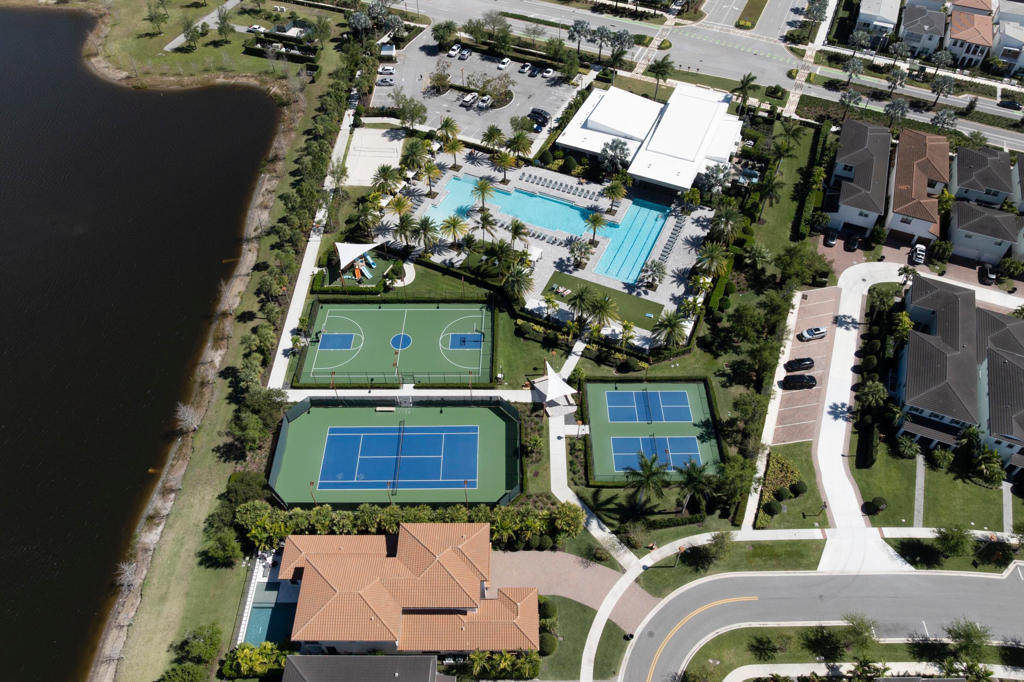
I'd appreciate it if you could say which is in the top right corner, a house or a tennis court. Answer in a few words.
house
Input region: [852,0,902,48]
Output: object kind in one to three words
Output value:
house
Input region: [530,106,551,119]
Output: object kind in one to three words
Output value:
vehicle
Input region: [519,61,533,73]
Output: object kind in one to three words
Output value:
vehicle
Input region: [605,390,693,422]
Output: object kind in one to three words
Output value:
sports court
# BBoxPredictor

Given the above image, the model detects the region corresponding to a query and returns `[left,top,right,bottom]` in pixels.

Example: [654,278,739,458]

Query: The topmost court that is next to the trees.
[343,128,406,185]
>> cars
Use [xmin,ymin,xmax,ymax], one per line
[448,43,462,56]
[783,374,818,390]
[479,95,492,108]
[541,67,555,78]
[524,123,545,134]
[377,65,396,75]
[800,325,829,342]
[785,358,816,373]
[530,106,551,119]
[519,61,533,73]
[999,100,1022,110]
[529,64,544,77]
[825,228,840,247]
[459,49,473,59]
[981,263,998,285]
[375,78,395,86]
[912,243,928,264]
[498,57,511,69]
[462,92,480,105]
[530,113,549,127]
